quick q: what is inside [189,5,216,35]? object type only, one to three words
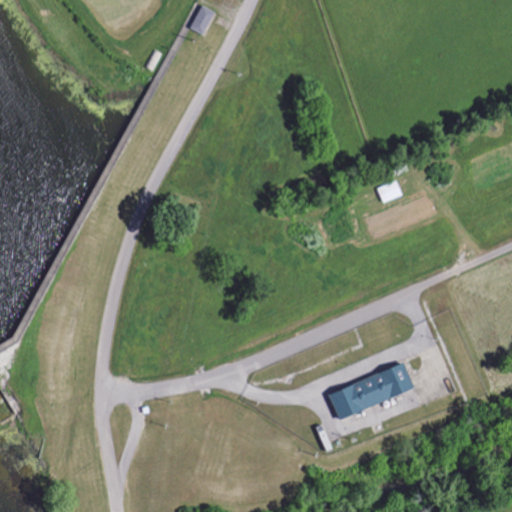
building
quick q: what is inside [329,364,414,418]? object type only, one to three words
building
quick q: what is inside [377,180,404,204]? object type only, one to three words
barn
